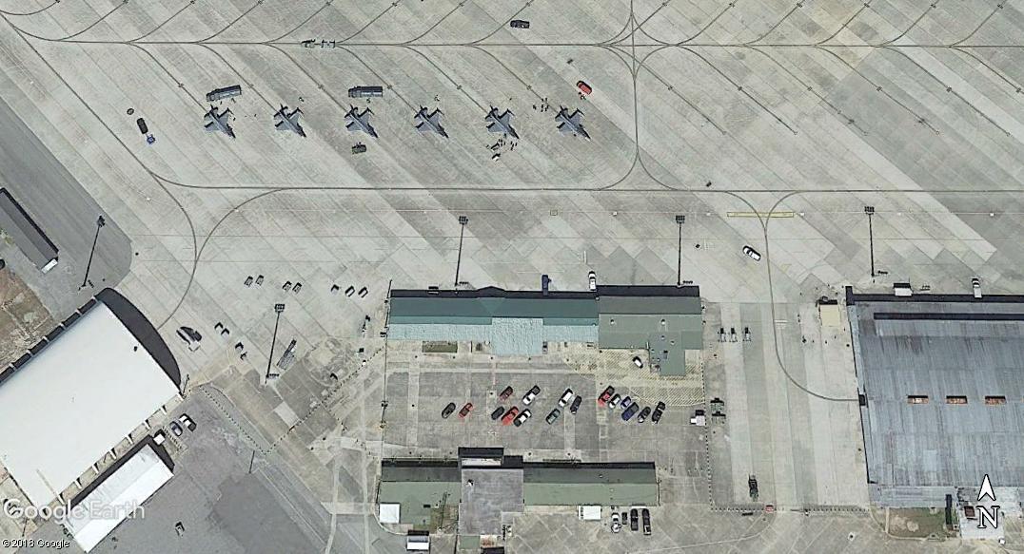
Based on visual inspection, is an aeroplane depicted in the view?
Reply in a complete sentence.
Yes, you can see an aeroplane in this photo.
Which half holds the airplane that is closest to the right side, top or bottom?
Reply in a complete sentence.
It is in the top half that the airplane that is closest to the right side appears.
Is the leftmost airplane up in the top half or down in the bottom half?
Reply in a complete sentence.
The leftmost airplane is in the top half of the image.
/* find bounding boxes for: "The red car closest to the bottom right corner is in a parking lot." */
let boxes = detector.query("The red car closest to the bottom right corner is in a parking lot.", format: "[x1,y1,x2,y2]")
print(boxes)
[597,386,615,406]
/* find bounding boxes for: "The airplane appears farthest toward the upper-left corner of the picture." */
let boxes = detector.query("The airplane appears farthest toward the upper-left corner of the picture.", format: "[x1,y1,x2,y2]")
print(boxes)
[204,107,235,138]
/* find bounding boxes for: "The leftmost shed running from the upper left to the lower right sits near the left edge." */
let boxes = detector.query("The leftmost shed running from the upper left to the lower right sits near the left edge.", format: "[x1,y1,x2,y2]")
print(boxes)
[0,192,55,269]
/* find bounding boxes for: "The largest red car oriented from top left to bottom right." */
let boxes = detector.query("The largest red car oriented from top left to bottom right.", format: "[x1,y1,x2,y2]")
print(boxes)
[577,80,593,95]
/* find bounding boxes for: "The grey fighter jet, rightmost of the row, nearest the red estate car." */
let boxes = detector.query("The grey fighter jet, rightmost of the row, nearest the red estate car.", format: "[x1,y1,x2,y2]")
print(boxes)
[557,108,590,140]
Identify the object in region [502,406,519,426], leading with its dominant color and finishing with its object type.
red car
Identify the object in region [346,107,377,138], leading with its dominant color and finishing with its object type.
gray airplane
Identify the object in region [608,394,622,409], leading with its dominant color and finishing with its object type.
white car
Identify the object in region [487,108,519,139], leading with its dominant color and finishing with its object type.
gray airplane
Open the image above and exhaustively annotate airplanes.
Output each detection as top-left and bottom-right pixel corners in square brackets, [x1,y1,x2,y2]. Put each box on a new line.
[487,108,519,139]
[346,107,377,138]
[557,108,590,140]
[416,108,449,139]
[204,107,235,138]
[275,107,307,139]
